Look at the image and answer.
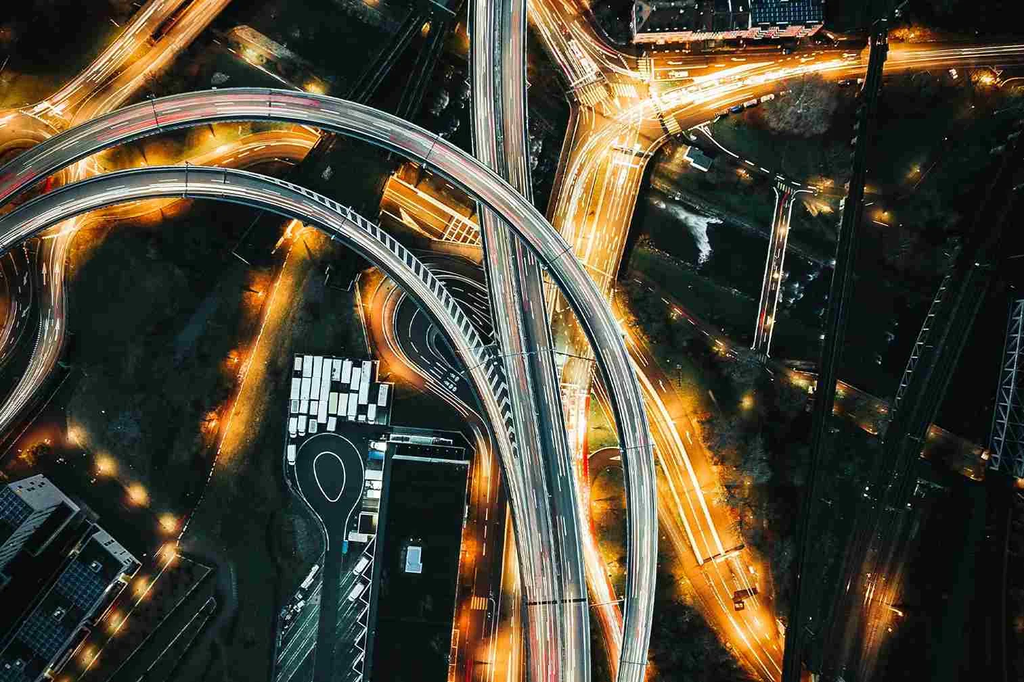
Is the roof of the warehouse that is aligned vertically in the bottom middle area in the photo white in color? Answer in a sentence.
No, the roof of the warehouse that is aligned vertically in the bottom middle area is actually black.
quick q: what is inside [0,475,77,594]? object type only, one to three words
building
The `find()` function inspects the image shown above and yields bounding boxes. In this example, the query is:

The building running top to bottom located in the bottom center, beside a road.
[358,455,470,682]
